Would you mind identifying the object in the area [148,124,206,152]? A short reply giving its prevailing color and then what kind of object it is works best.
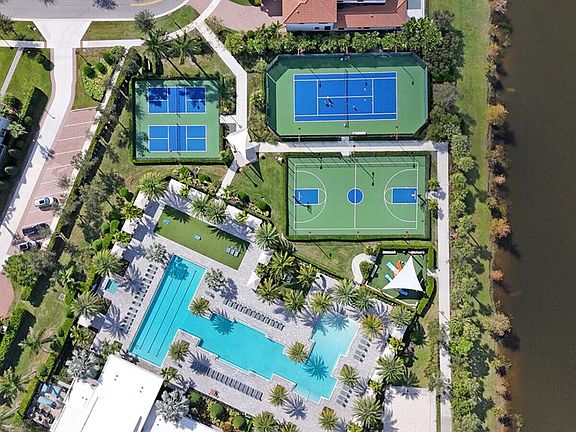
blue sports court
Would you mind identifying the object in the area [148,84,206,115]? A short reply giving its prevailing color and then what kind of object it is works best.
blue sports court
